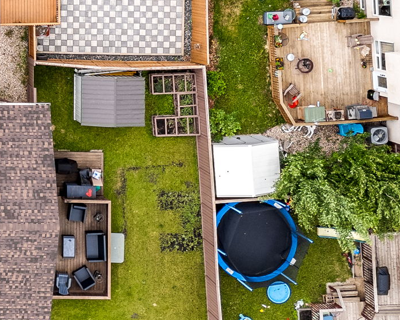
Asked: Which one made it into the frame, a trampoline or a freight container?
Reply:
trampoline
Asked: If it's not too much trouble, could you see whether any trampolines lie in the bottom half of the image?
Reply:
Yes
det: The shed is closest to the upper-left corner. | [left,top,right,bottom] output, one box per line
[71,72,145,128]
